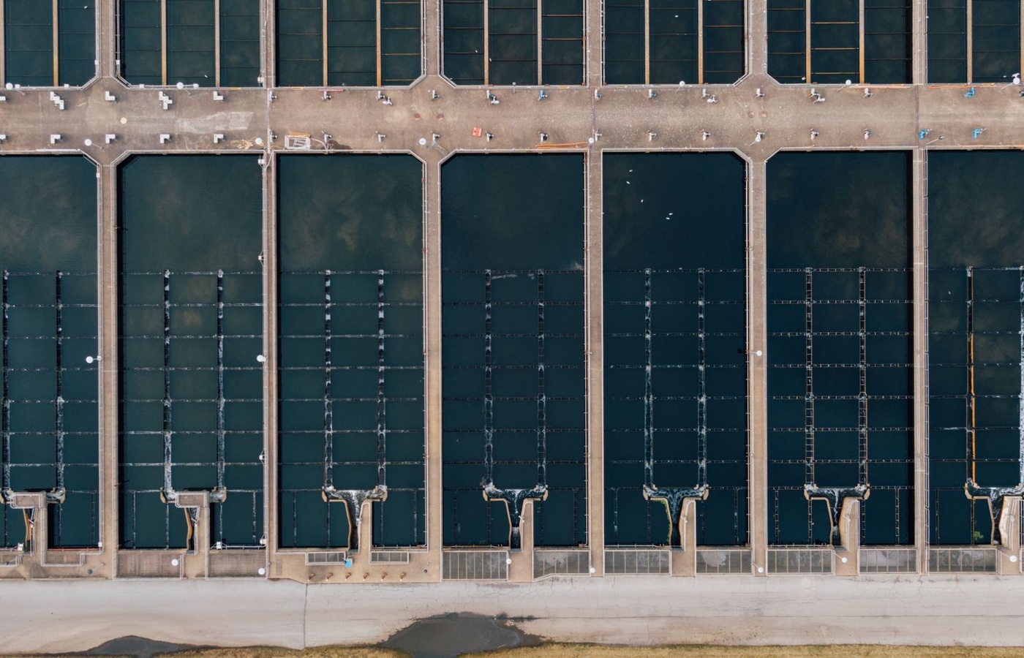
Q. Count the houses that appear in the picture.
none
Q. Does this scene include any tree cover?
No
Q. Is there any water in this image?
Yes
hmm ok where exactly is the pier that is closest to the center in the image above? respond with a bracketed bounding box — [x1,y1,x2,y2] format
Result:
[522,500,535,551]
